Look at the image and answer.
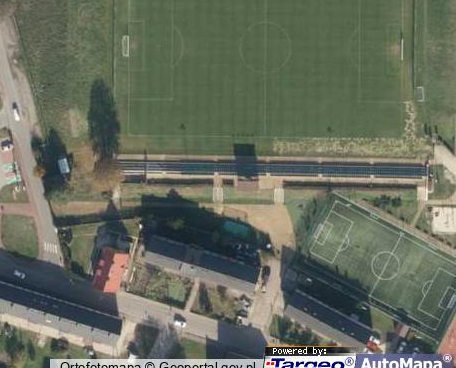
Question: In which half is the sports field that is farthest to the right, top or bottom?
bottom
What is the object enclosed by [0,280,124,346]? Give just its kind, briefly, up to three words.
building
